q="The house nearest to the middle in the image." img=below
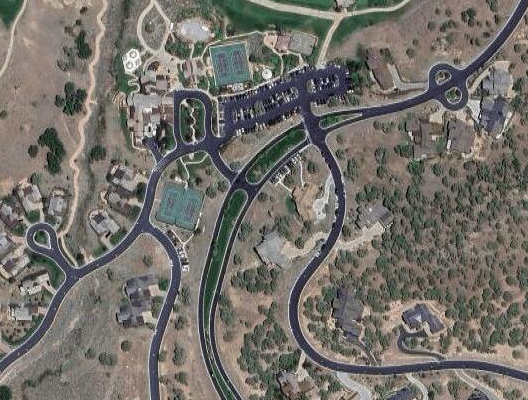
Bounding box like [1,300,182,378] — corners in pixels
[256,230,292,268]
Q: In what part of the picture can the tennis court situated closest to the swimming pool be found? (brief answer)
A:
top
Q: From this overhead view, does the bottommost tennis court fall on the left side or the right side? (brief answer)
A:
left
